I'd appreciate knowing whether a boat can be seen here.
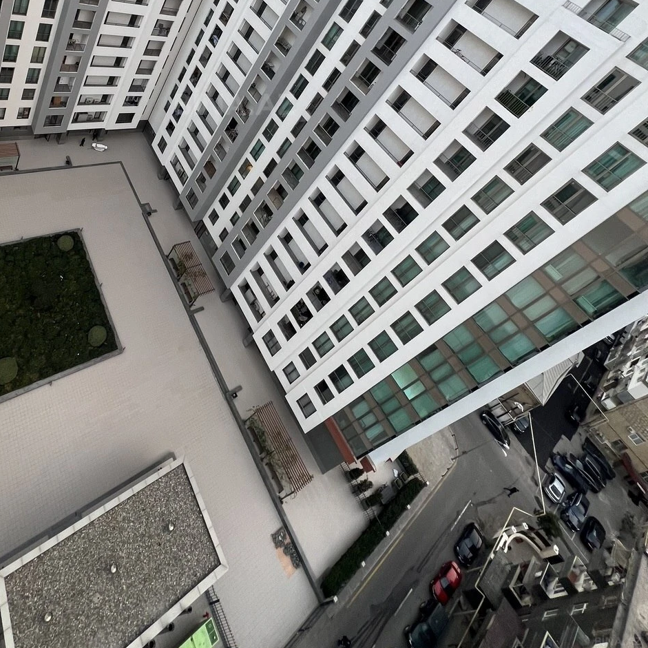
No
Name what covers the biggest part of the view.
buildings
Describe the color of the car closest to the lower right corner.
black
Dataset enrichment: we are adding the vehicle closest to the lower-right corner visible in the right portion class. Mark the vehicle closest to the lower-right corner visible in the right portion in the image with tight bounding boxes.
[580,520,609,559]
